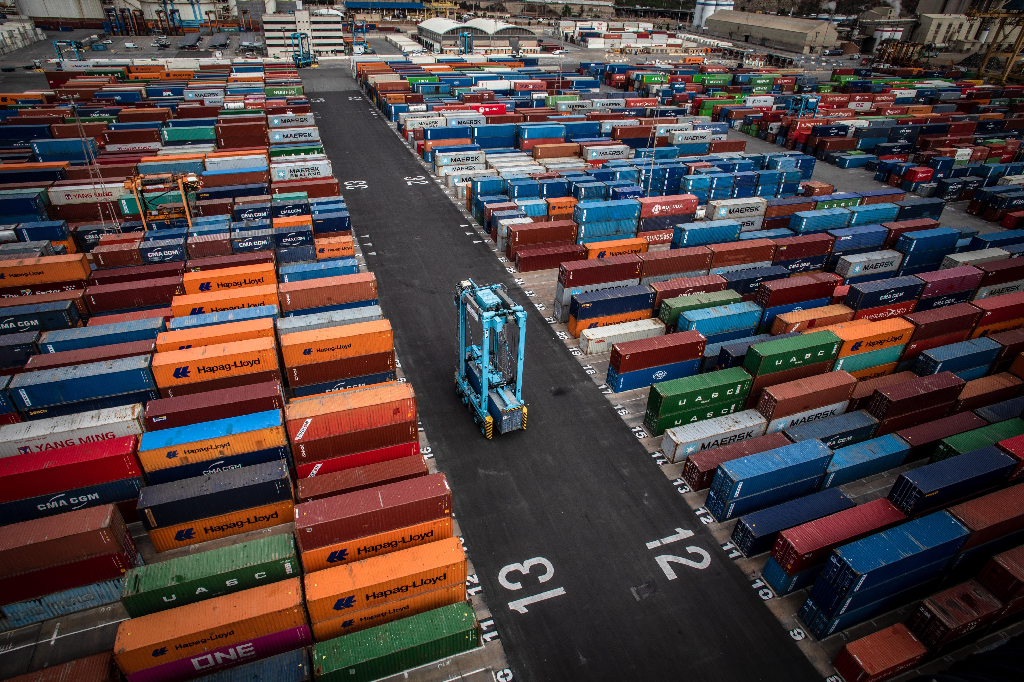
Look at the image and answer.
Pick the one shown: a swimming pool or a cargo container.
cargo container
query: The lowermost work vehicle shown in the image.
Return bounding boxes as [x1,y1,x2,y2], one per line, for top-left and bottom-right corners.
[452,274,532,439]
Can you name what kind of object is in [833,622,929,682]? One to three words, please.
shipping container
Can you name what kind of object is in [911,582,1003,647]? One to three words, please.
shipping container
